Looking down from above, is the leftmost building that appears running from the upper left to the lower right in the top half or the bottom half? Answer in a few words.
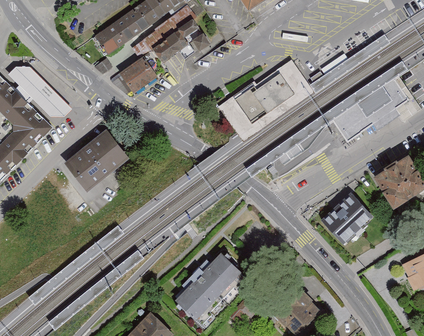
top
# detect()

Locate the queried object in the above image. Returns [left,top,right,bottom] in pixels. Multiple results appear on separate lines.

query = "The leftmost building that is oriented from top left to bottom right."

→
[10,66,72,116]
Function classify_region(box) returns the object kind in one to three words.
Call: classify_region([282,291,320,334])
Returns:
house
